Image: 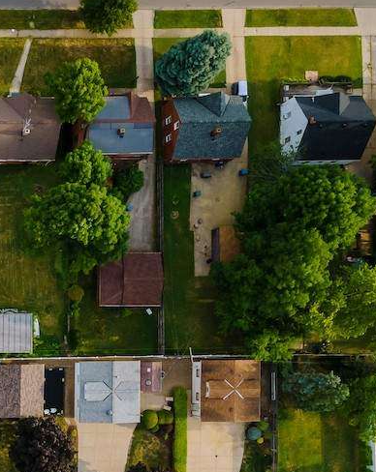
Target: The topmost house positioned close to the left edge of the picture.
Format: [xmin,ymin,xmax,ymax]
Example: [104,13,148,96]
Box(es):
[0,91,61,163]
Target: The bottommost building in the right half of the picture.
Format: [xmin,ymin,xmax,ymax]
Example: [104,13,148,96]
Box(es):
[193,361,261,422]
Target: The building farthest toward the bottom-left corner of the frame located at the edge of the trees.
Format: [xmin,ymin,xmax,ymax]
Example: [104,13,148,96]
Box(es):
[0,363,44,419]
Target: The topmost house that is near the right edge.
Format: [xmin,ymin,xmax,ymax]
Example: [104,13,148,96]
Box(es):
[279,92,376,166]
